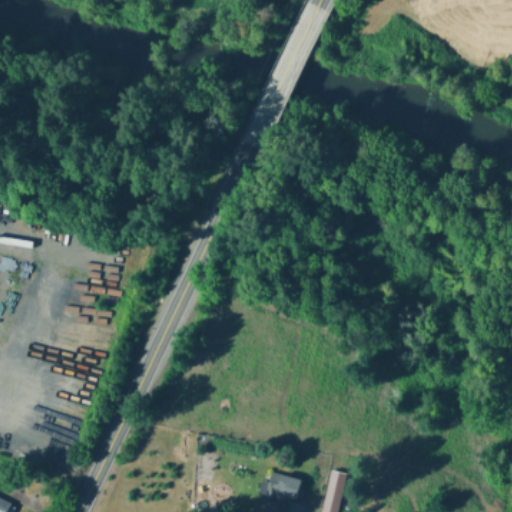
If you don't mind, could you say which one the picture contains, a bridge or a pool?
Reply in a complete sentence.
There is a bridge in the scene.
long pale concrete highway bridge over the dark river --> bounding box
[253,0,330,122]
